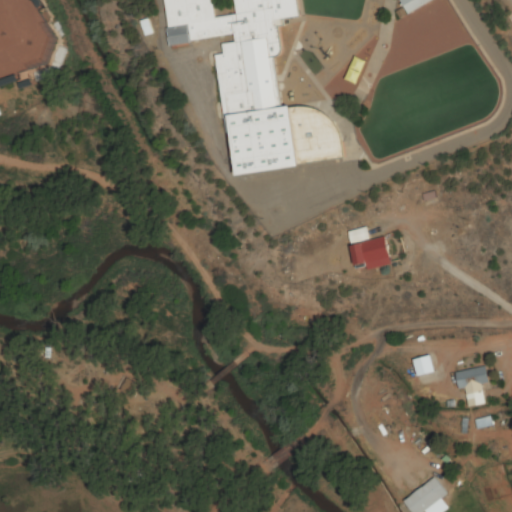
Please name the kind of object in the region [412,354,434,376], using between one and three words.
house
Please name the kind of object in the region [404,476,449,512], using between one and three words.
barn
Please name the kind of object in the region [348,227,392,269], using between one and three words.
house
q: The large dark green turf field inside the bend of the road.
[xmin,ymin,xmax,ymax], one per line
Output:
[361,0,502,162]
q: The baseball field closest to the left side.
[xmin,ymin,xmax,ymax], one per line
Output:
[0,0,56,79]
